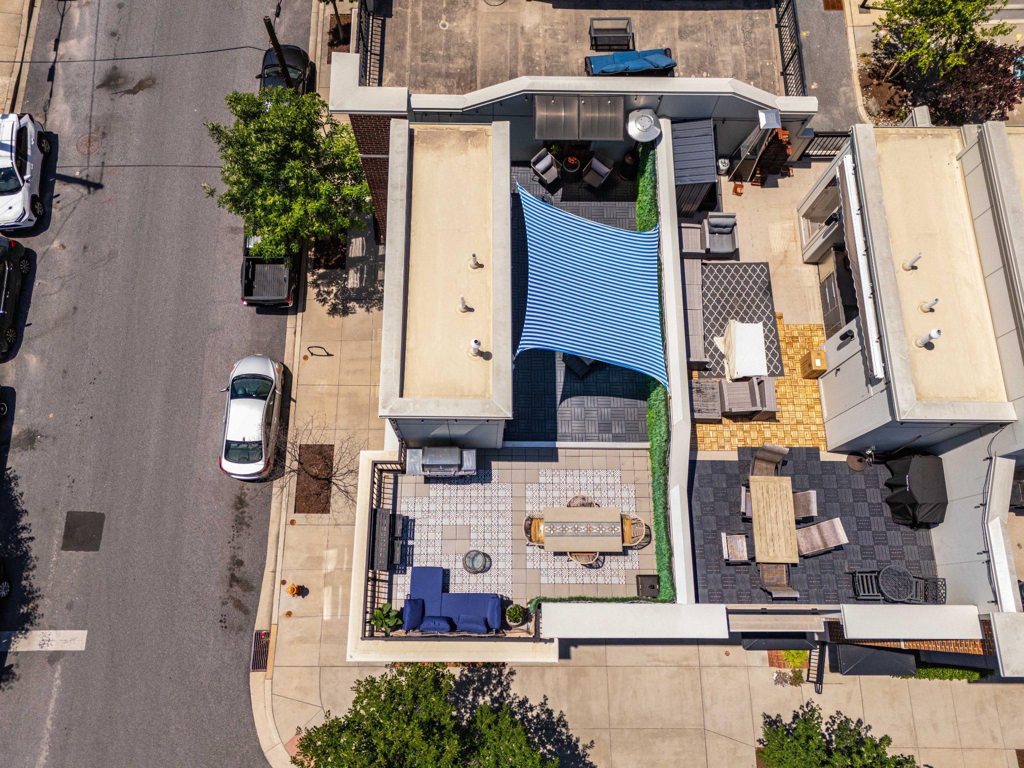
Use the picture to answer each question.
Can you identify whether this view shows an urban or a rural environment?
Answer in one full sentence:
The area is urban.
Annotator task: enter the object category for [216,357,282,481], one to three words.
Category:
car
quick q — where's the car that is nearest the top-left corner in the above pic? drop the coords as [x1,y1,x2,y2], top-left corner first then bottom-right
[0,112,52,233]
